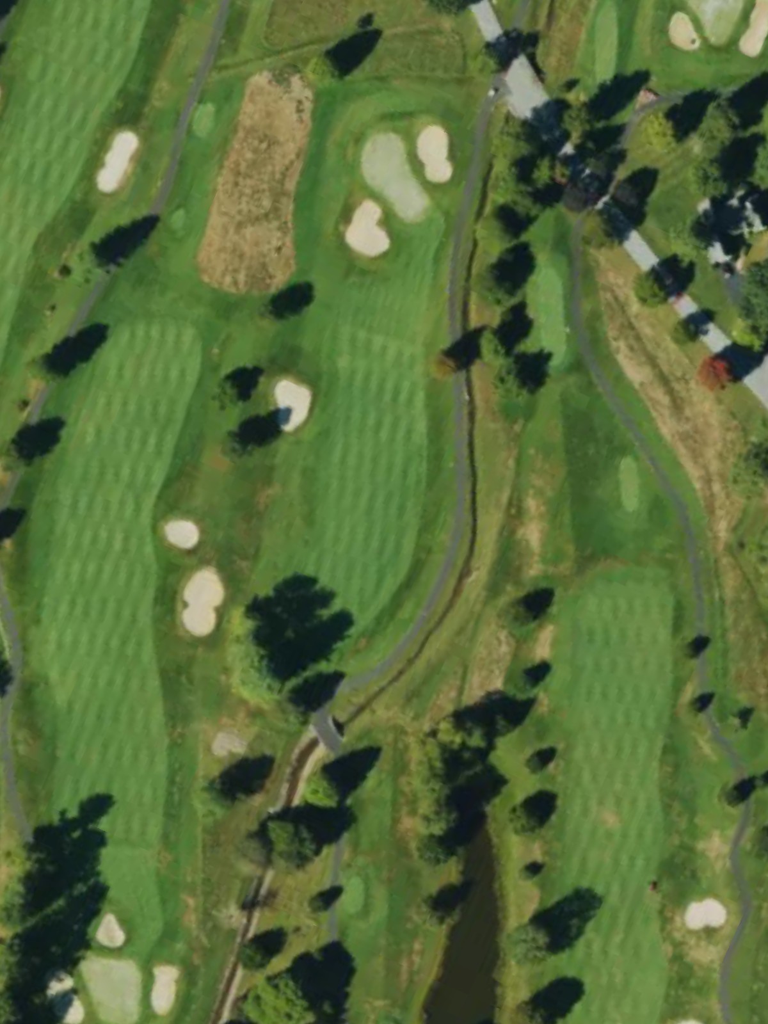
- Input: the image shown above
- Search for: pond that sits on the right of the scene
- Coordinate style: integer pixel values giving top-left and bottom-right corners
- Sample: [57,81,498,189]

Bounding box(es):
[422,813,501,1024]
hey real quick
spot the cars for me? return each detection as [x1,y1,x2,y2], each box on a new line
[723,271,733,282]
[672,289,685,303]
